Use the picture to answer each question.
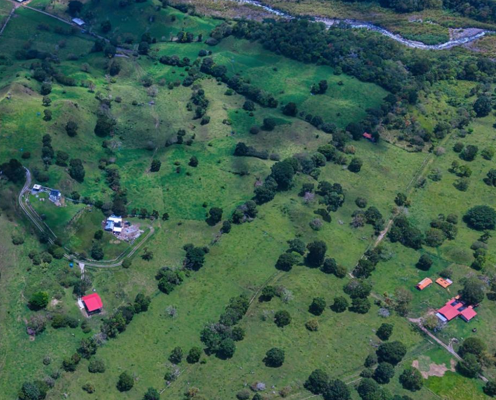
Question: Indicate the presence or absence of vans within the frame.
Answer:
No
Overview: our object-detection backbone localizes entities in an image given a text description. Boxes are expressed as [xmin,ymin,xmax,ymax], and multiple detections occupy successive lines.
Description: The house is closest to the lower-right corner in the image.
[435,294,480,327]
